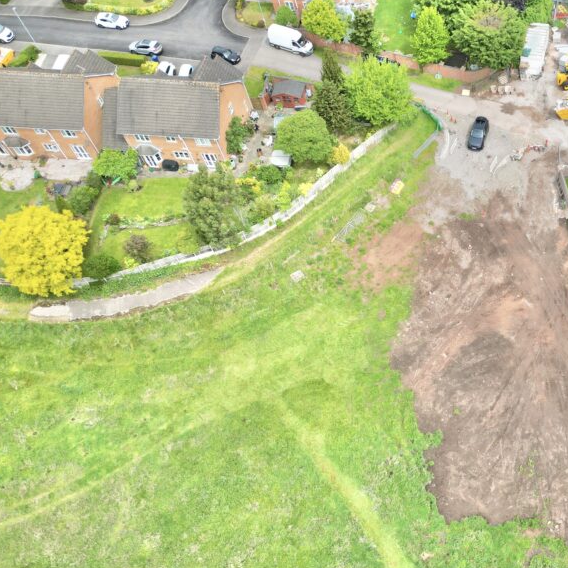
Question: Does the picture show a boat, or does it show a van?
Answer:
van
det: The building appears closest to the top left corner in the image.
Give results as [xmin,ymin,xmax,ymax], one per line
[0,49,120,166]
